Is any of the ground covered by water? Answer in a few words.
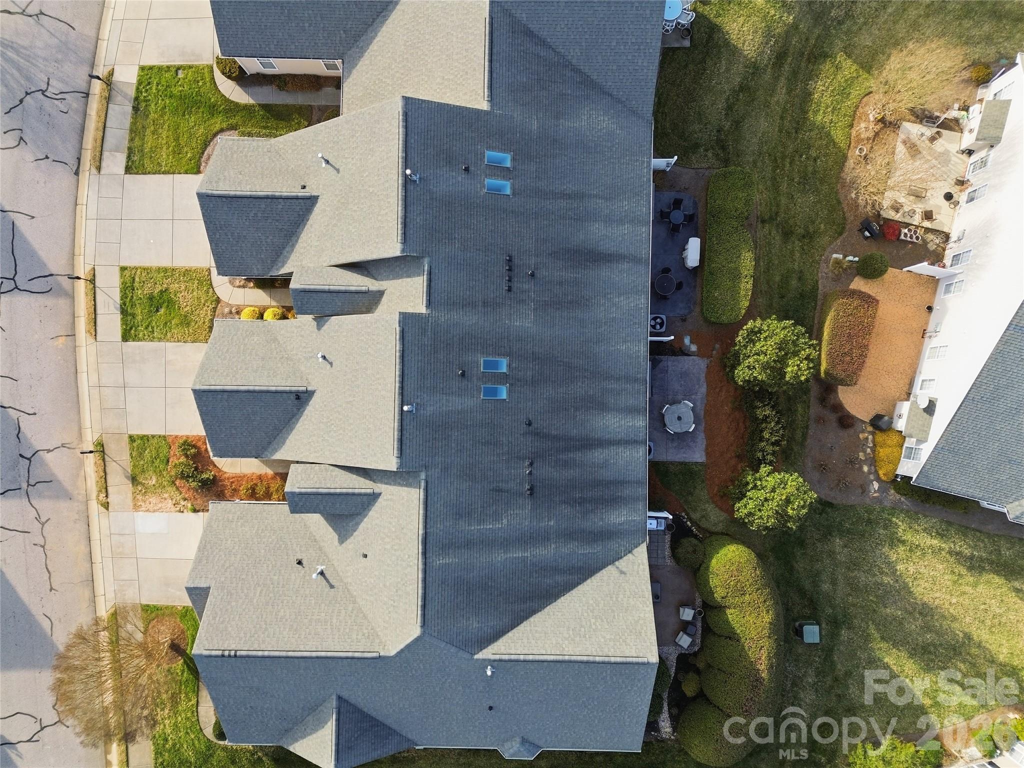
No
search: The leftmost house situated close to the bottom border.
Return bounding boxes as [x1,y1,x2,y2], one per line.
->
[186,461,660,768]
